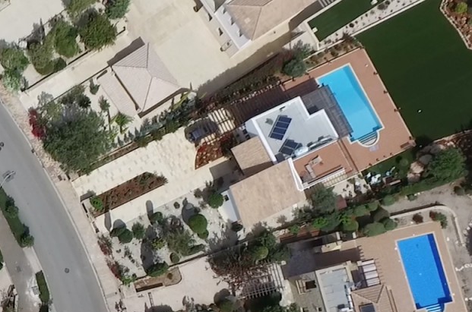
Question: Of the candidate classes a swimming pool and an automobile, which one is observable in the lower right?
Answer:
swimming pool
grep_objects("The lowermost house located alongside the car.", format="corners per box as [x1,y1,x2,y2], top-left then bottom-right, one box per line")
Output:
[222,96,355,227]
